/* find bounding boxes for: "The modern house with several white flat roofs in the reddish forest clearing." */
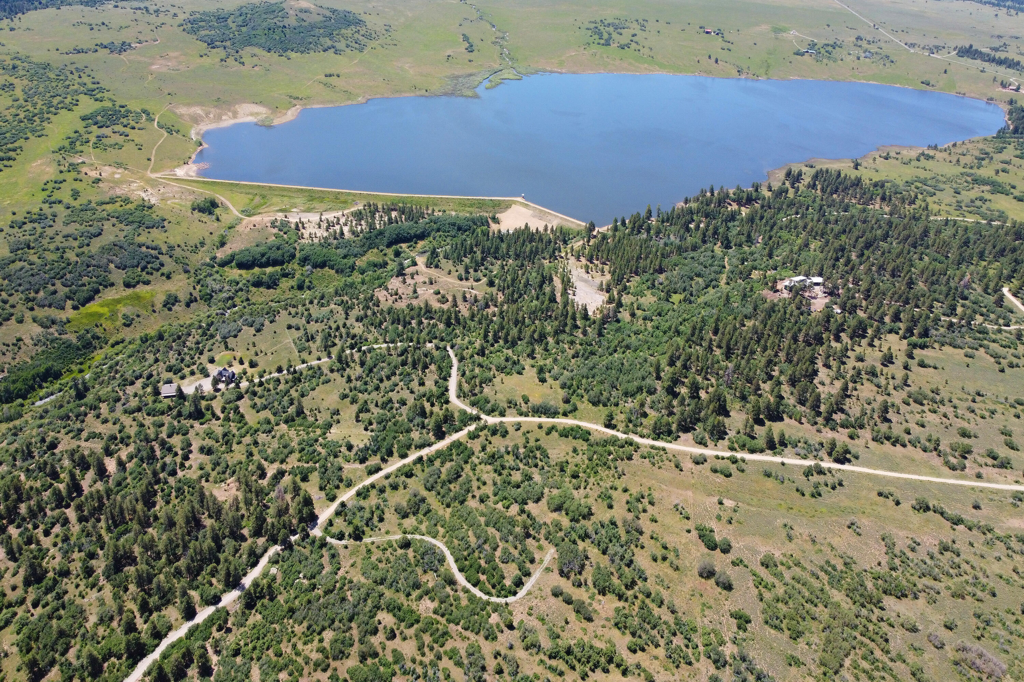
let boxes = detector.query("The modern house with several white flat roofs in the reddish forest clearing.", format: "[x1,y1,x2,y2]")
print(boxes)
[782,274,820,291]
